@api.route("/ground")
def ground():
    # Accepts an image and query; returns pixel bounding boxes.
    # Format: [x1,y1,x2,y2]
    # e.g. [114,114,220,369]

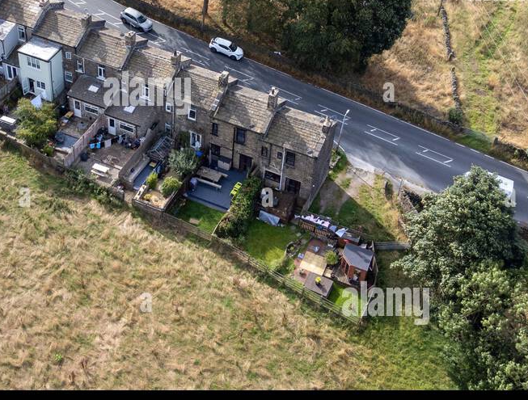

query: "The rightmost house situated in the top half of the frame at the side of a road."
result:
[259,105,339,205]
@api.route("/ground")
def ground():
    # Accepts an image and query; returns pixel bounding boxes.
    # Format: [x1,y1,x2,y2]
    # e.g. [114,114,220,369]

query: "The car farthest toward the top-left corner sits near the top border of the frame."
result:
[122,7,155,33]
